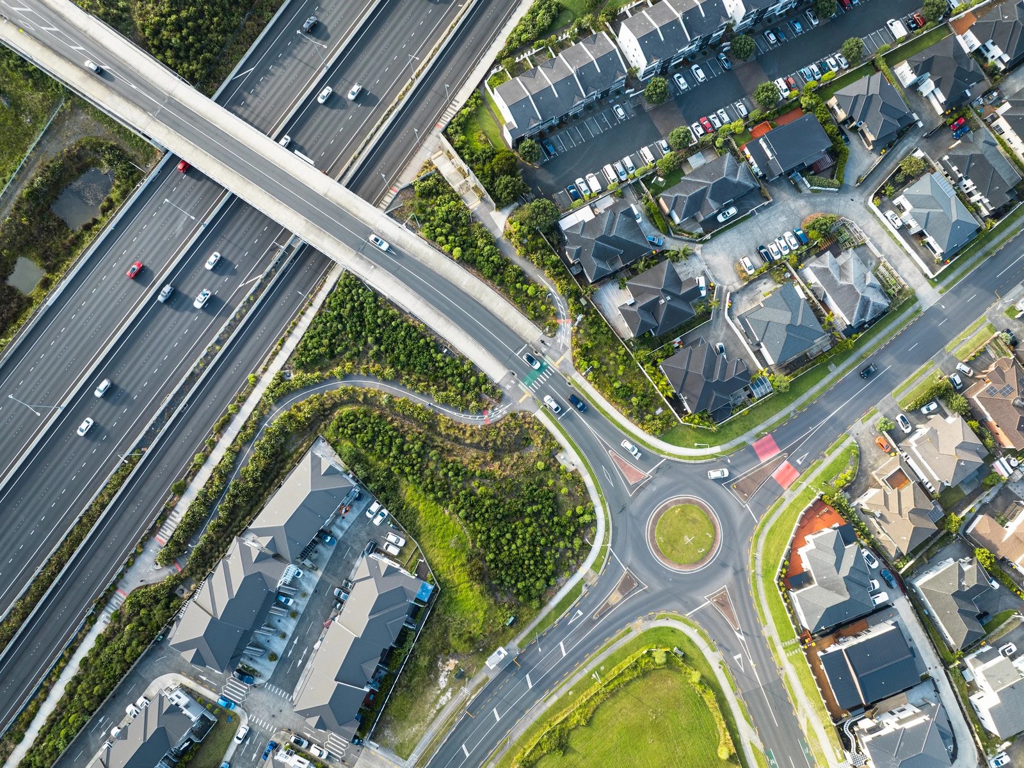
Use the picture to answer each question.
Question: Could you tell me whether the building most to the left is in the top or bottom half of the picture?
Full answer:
It is in the bottom half that the building most to the left appears.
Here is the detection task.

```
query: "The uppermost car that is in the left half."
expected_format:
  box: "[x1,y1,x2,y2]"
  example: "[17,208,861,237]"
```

[301,14,320,35]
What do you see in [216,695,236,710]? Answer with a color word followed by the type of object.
blue car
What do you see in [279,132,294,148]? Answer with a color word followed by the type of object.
white car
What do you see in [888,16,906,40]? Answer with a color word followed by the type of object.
white vehicle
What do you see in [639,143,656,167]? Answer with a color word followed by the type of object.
white vehicle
